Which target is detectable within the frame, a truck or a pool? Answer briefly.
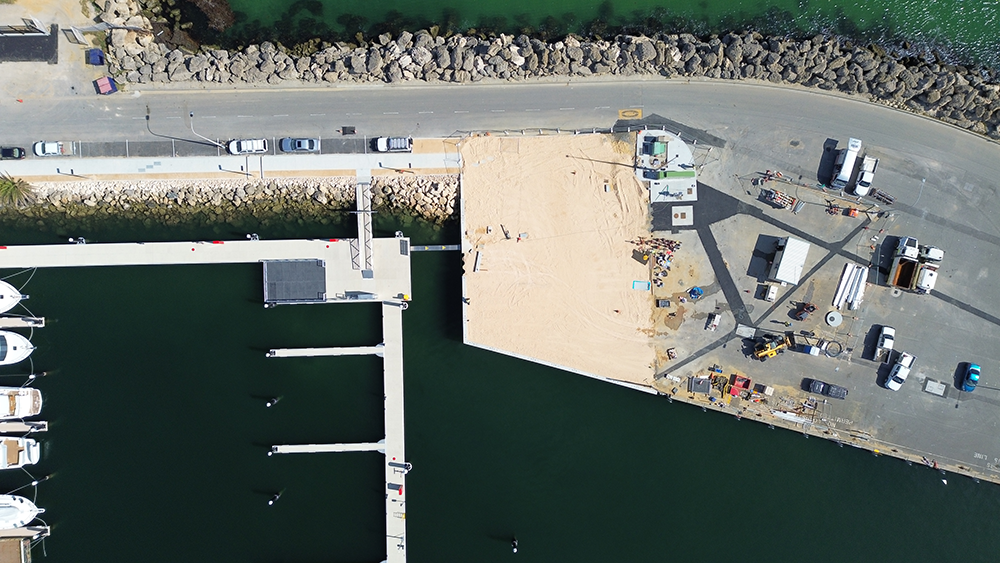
truck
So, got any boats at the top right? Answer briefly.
No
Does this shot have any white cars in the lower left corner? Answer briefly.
No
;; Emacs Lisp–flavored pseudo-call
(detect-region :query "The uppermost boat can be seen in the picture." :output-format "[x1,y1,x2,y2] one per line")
[0,284,28,309]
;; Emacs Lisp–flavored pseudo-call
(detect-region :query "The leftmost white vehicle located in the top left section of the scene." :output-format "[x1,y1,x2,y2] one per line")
[35,140,80,158]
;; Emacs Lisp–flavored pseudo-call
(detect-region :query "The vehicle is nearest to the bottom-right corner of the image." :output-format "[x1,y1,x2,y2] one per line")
[957,360,979,392]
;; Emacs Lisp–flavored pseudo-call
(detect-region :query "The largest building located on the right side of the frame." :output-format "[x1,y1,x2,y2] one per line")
[764,237,810,289]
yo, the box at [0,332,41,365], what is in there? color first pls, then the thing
white boat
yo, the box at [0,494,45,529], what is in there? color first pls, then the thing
white boat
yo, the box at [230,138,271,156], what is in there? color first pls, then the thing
white car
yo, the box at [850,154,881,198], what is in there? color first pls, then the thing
white truck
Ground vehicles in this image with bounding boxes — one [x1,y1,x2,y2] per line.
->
[753,329,797,360]
[873,323,896,364]
[886,235,926,294]
[805,377,851,402]
[35,140,80,158]
[230,138,271,156]
[882,350,914,391]
[790,299,817,323]
[850,154,881,198]
[281,137,320,154]
[914,245,942,293]
[957,360,979,392]
[0,144,28,161]
[375,136,412,153]
[820,135,869,191]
